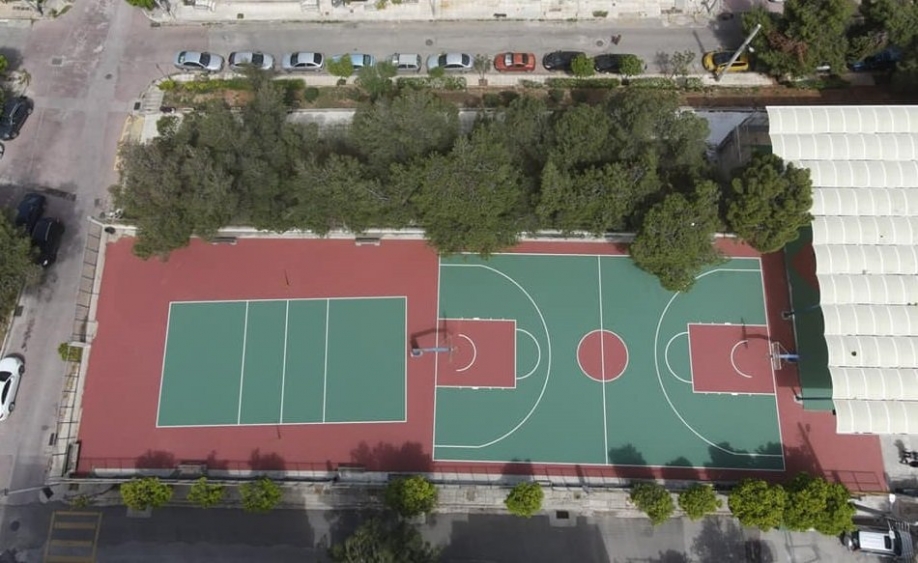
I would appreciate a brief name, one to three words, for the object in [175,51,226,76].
car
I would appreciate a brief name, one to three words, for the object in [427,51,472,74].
car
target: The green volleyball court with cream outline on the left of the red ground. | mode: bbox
[156,297,407,427]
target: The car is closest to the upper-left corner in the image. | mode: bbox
[0,98,36,143]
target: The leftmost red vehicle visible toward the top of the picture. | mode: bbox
[493,53,535,74]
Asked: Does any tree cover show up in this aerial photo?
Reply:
Yes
